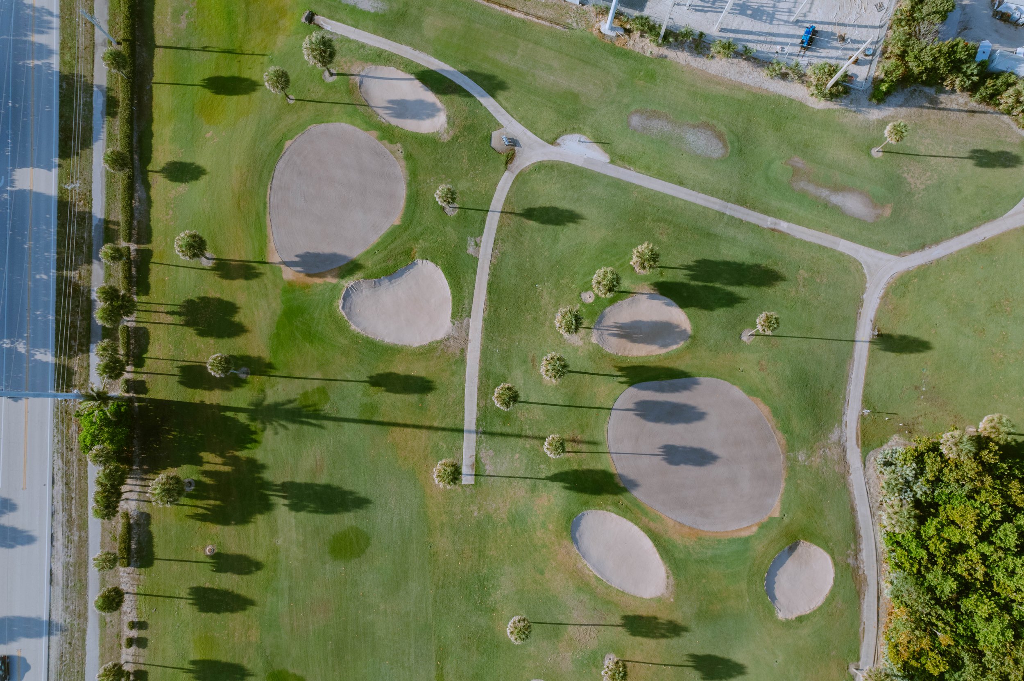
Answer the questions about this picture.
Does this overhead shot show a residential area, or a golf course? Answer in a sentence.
It's a golf course.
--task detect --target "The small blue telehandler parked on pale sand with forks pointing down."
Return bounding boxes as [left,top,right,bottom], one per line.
[798,23,817,61]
